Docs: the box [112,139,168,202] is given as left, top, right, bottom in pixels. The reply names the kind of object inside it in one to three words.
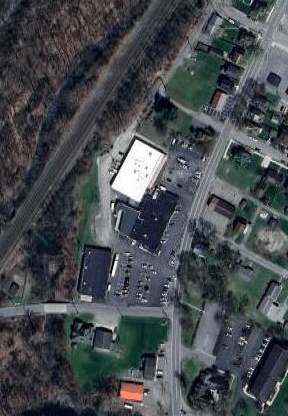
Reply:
building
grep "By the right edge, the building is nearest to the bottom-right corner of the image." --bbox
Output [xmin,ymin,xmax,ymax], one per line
[245,341,288,400]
